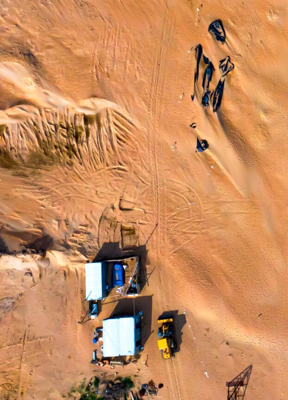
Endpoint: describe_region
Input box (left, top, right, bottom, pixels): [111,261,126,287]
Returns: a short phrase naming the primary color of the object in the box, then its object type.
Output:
blue vehicle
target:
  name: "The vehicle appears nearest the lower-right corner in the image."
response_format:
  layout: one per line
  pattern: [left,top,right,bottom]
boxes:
[158,309,177,358]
